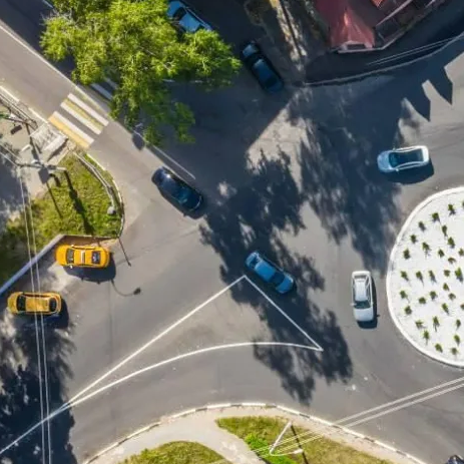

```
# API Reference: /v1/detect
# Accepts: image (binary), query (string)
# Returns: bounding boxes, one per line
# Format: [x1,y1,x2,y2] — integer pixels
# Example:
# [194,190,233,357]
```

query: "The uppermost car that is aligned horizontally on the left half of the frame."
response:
[57,244,113,269]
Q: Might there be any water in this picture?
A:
No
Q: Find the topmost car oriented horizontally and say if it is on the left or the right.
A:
right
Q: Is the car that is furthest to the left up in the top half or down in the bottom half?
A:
bottom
